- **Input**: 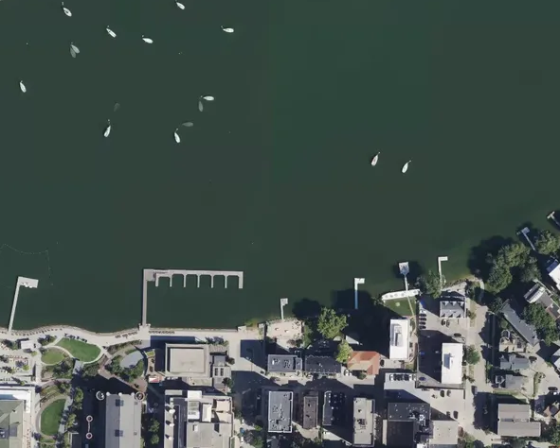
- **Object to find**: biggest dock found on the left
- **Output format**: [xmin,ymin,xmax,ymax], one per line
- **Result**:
[140,269,243,330]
